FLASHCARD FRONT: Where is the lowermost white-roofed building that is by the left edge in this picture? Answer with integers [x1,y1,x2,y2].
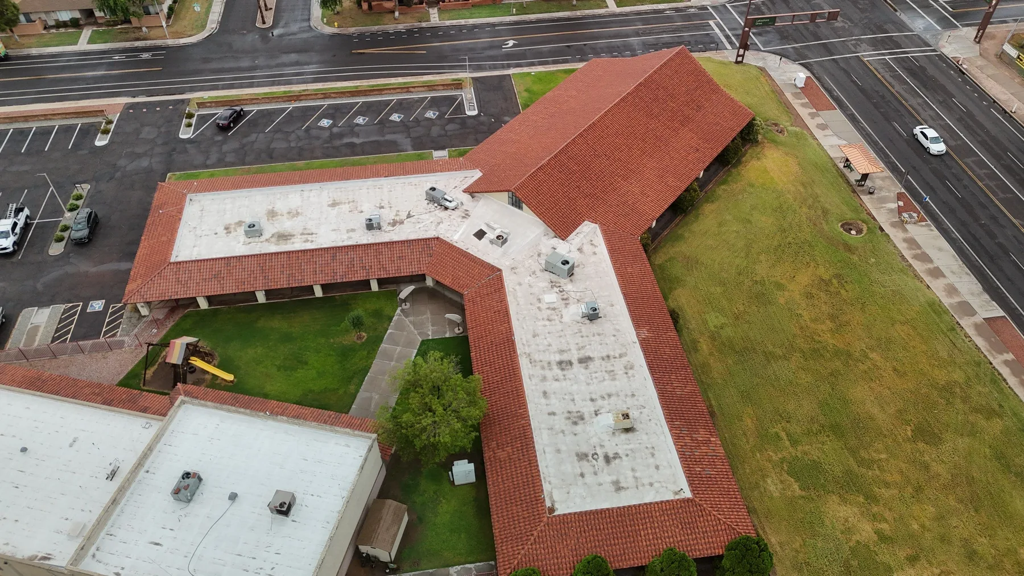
[0,360,402,576]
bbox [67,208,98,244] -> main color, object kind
gray car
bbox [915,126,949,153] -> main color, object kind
white car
